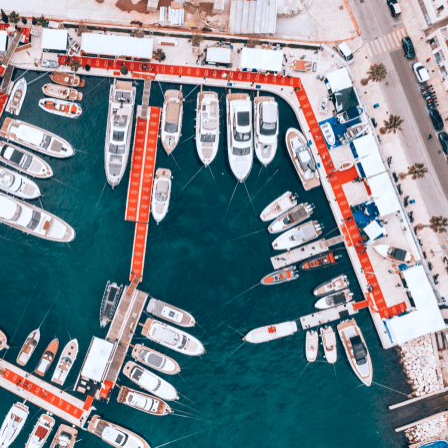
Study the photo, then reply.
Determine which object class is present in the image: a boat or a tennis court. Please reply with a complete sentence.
It is a boat that can be seen here.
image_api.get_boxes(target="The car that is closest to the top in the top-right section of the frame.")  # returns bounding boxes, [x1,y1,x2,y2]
[385,0,401,20]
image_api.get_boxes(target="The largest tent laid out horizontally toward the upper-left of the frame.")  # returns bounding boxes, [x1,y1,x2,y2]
[81,34,153,65]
